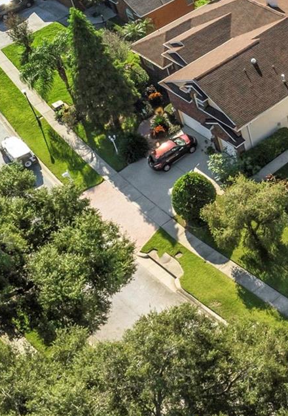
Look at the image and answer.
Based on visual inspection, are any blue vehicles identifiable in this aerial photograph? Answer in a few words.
No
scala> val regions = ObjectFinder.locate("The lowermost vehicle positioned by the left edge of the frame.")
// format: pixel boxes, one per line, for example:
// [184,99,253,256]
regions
[0,140,36,177]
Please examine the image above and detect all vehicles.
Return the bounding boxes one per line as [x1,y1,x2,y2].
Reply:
[0,0,35,16]
[0,140,36,177]
[142,131,193,164]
